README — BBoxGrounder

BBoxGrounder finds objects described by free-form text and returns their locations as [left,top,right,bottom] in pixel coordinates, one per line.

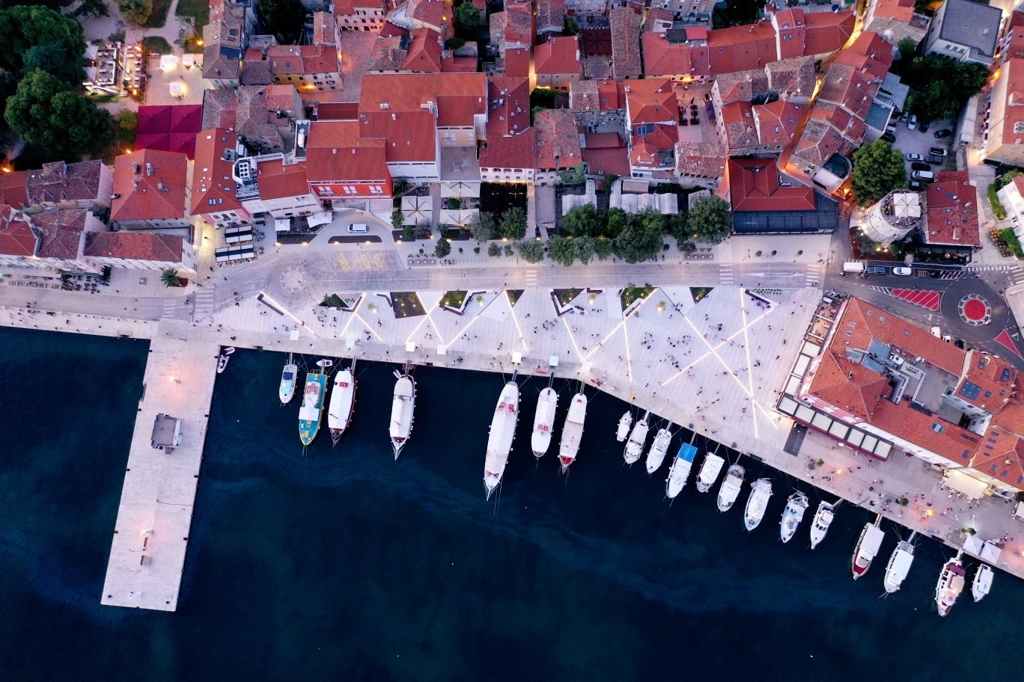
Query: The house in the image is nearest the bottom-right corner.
[952,426,1024,494]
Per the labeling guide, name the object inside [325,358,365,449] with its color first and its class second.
white boat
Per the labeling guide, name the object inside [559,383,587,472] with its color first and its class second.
white boat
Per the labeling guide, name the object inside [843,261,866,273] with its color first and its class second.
white vehicle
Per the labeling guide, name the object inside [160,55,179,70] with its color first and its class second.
white umbrella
